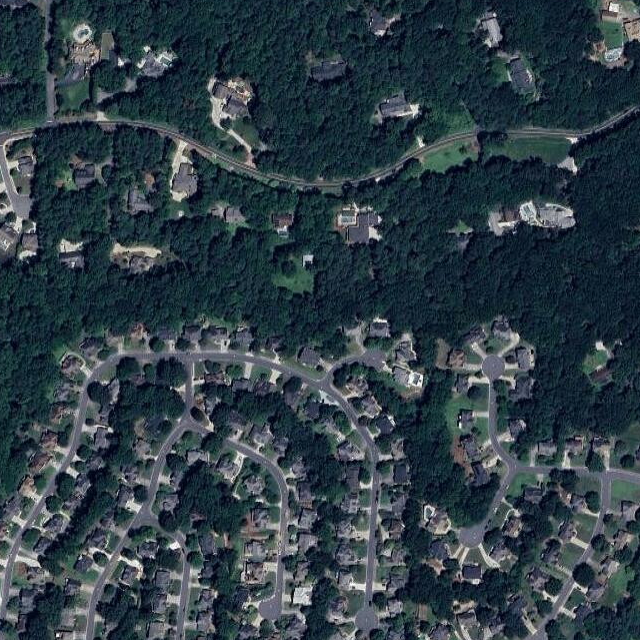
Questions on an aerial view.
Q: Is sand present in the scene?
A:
No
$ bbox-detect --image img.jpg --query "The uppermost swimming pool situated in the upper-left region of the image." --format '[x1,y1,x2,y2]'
[74,23,92,42]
